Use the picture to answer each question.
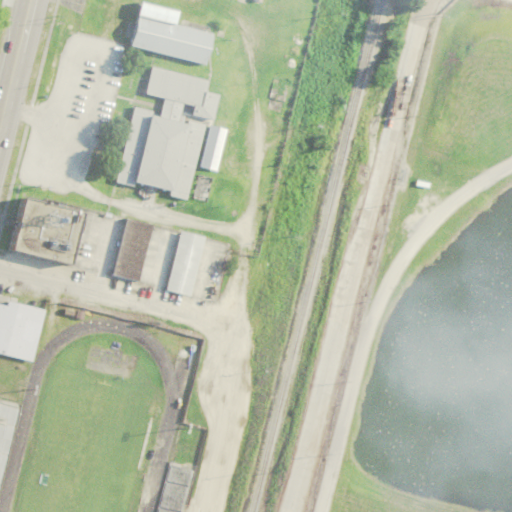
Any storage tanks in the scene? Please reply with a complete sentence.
No, the picture doesn't show any storage tank.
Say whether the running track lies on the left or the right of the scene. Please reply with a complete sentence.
The running track is on the left side of the image.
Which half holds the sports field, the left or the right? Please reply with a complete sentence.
The sports field appears in the left half of the scene.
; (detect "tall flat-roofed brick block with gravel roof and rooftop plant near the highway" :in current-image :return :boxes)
[14,199,86,264]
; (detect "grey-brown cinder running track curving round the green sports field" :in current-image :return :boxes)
[0,320,182,512]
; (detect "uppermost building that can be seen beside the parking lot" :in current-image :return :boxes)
[132,1,215,65]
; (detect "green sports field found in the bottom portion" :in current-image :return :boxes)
[12,336,164,512]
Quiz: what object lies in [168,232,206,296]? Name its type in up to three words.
shed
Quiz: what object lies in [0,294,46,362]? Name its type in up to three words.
building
